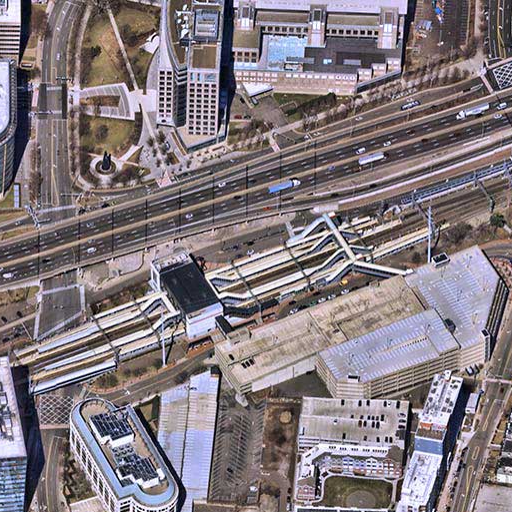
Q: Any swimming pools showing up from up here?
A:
No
